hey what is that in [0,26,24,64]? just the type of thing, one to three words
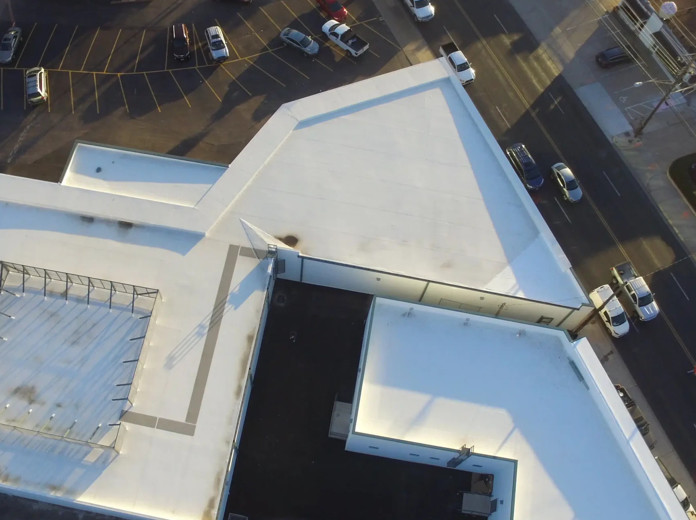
car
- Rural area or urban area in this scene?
urban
